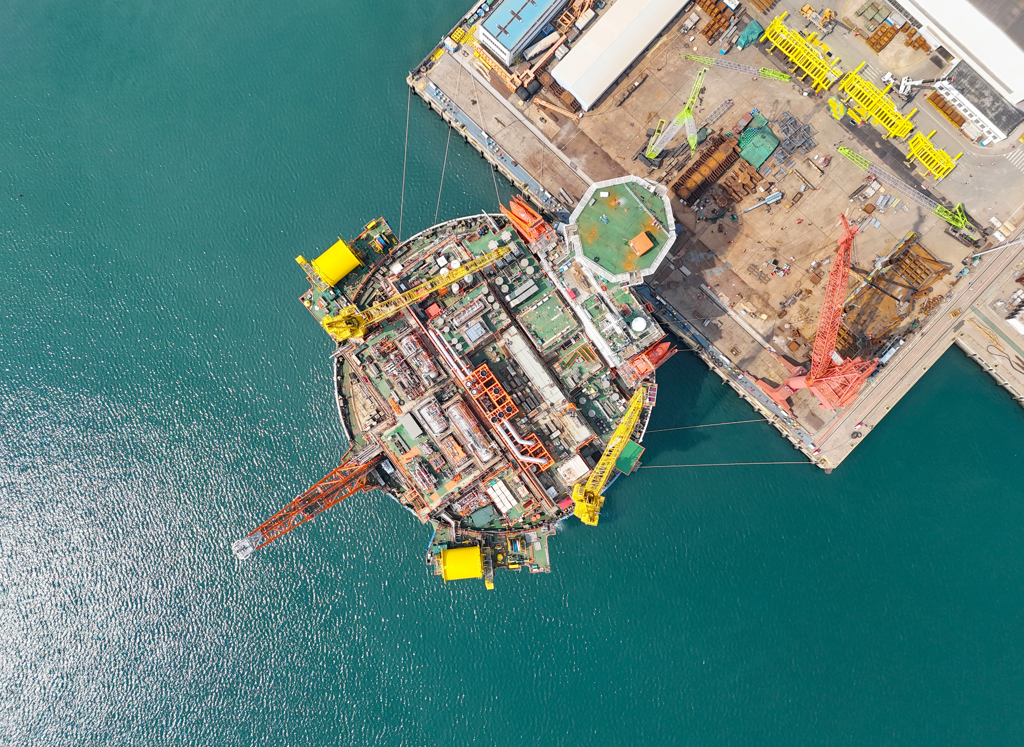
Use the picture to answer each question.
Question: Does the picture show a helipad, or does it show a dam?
helipad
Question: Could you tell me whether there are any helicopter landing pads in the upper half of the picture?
Yes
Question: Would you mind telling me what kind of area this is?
port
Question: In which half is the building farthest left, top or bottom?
top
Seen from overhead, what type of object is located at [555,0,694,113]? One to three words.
shed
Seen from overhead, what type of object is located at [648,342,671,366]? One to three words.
boat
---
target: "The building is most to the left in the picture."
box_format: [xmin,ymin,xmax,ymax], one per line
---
[478,0,572,67]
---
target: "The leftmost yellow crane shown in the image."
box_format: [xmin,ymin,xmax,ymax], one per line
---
[321,245,516,342]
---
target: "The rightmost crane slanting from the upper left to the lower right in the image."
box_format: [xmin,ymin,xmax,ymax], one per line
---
[837,145,1001,257]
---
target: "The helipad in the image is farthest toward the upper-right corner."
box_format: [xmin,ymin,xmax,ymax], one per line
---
[563,174,677,285]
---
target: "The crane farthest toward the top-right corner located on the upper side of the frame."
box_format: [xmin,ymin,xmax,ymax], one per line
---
[878,72,957,109]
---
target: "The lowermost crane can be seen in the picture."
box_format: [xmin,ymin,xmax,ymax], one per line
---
[571,384,648,527]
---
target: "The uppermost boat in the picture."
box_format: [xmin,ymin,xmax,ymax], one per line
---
[509,200,539,225]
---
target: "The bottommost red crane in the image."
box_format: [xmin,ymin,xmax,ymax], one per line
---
[743,209,881,422]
